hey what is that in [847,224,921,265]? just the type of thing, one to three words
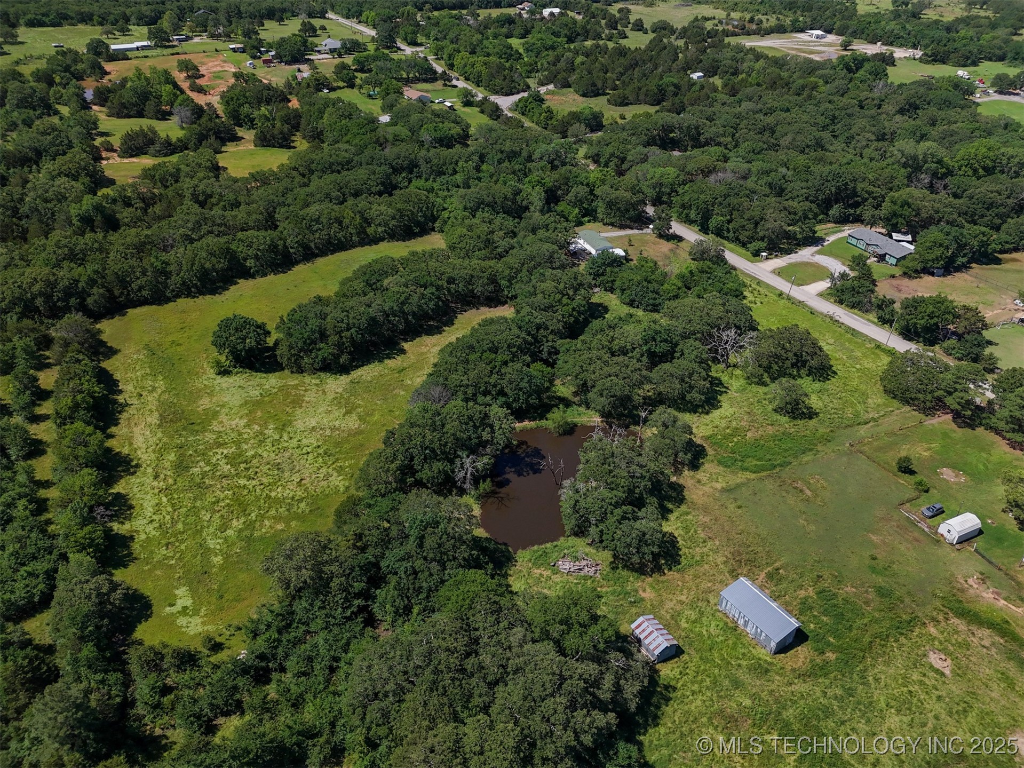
building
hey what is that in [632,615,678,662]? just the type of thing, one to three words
shed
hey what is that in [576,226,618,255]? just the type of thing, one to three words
house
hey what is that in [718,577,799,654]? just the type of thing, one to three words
barn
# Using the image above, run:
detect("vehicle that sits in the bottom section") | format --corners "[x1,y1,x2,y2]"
[923,503,944,520]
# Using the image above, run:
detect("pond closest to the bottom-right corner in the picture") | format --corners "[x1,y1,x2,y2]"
[474,426,640,551]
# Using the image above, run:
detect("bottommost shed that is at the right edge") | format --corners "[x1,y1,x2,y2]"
[938,508,985,544]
